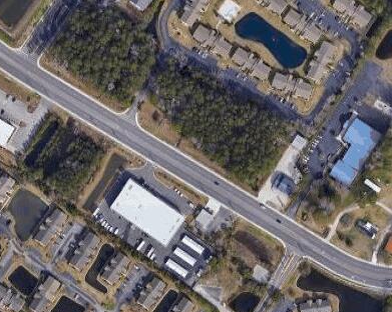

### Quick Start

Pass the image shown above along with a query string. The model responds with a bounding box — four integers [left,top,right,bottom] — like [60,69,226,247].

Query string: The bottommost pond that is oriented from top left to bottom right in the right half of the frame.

[235,12,306,68]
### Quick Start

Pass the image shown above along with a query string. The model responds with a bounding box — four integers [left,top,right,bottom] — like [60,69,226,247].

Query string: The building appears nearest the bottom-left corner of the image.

[0,283,27,312]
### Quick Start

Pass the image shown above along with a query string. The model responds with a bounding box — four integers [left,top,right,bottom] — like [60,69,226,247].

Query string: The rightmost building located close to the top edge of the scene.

[330,0,375,32]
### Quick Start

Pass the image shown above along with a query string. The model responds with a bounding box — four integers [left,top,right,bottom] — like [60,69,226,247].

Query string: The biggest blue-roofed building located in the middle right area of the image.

[330,111,382,186]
